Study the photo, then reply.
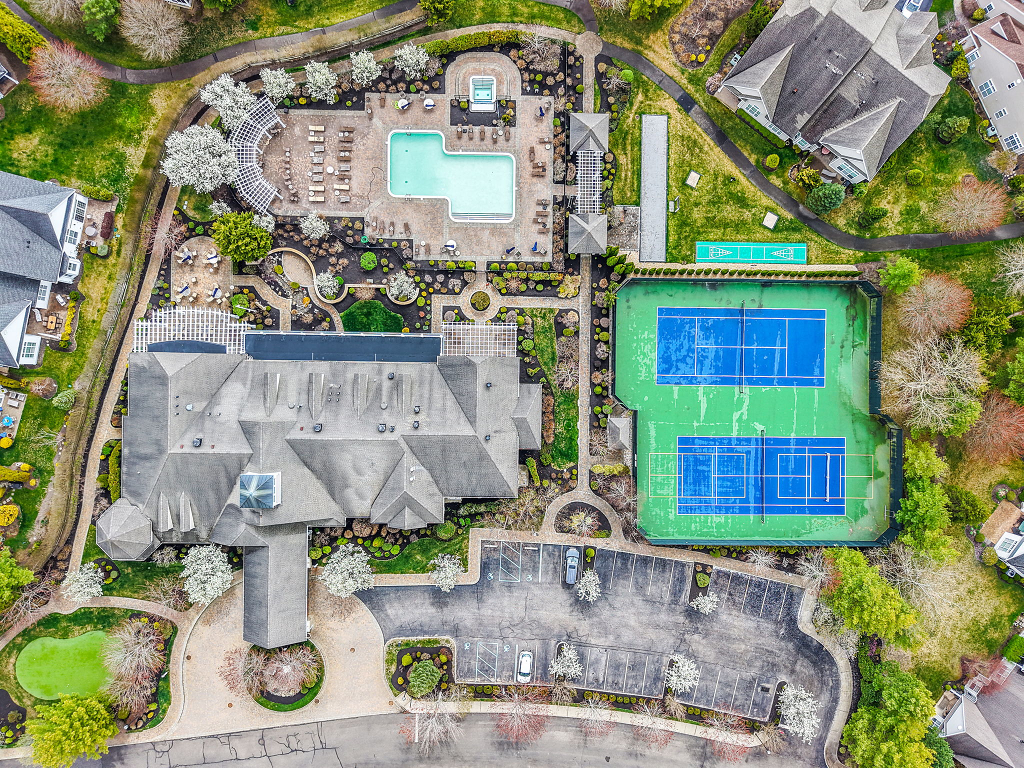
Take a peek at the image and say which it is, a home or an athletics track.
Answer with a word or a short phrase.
home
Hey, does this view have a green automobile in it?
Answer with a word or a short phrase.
No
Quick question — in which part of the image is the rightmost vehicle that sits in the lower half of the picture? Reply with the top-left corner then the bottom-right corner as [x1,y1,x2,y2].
[564,547,581,584]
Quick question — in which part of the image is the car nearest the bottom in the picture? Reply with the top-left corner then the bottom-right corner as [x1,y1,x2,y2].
[517,650,533,682]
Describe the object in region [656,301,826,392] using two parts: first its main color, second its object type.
blue tennis court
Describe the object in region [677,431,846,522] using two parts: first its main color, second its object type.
blue tennis court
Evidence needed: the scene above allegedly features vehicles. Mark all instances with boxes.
[517,650,533,682]
[564,547,581,584]
[903,0,924,16]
